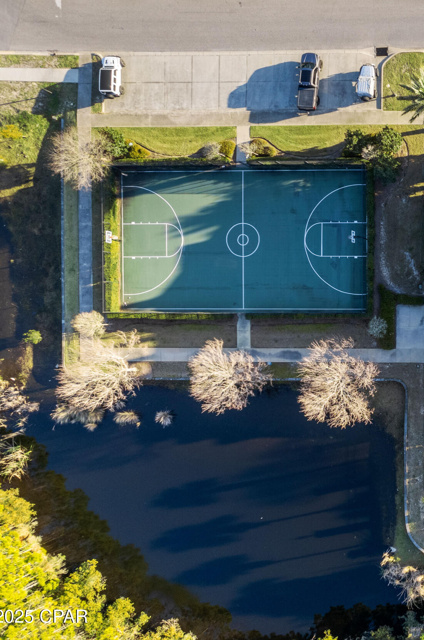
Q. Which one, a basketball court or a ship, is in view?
basketball court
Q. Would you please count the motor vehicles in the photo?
3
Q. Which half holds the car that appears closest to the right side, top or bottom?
top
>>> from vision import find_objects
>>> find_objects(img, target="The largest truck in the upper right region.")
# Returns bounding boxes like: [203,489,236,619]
[298,55,323,114]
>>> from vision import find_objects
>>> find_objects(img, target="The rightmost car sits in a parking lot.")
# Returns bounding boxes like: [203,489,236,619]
[357,66,380,106]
